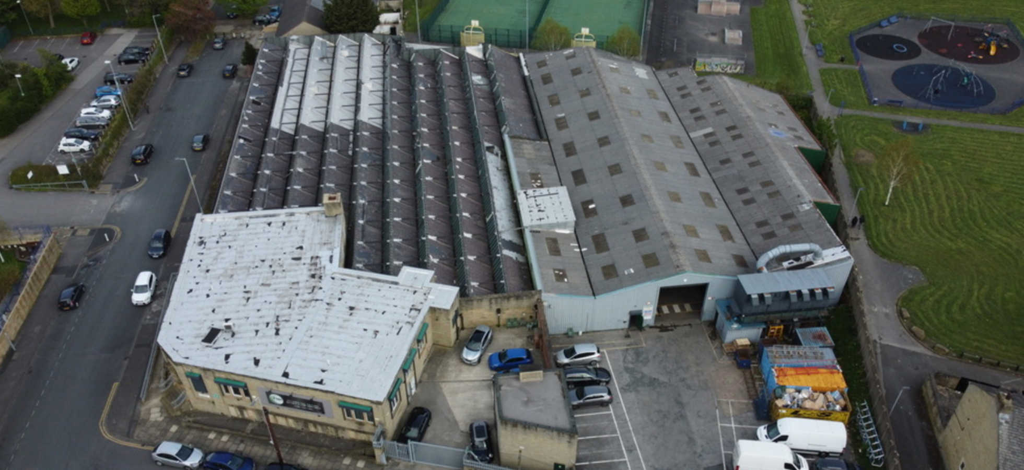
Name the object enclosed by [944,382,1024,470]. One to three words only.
house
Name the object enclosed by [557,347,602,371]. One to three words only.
car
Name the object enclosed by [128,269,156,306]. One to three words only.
car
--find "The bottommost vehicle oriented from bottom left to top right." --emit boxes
[396,398,435,448]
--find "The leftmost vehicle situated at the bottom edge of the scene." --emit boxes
[148,445,203,470]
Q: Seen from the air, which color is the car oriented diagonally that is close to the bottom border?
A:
black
